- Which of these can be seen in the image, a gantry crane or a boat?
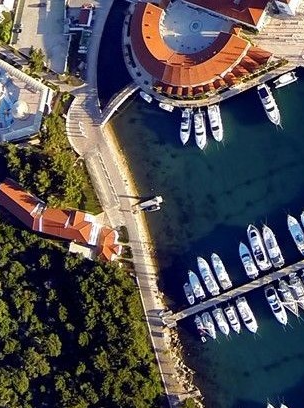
boat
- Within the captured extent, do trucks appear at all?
No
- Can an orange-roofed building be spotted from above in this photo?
Yes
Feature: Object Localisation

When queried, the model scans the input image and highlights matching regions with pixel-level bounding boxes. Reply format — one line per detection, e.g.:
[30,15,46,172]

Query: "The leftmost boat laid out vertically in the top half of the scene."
[180,109,193,144]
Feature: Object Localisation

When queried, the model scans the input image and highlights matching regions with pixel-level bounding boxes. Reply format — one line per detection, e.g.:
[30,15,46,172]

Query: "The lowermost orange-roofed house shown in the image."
[100,226,124,262]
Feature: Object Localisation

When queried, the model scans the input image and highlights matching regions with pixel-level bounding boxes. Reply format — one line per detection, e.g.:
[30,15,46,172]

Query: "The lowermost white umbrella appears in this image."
[13,101,28,116]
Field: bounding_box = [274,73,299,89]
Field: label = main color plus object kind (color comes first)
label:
white boat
